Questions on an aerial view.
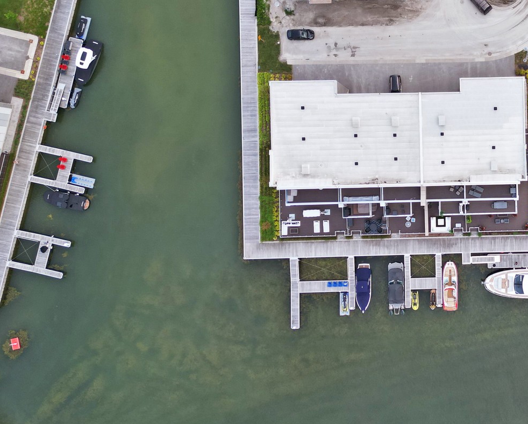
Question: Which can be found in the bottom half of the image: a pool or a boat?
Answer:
boat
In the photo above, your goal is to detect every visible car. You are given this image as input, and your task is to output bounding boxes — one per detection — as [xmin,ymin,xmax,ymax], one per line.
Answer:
[287,28,314,41]
[470,0,492,14]
[390,74,401,93]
